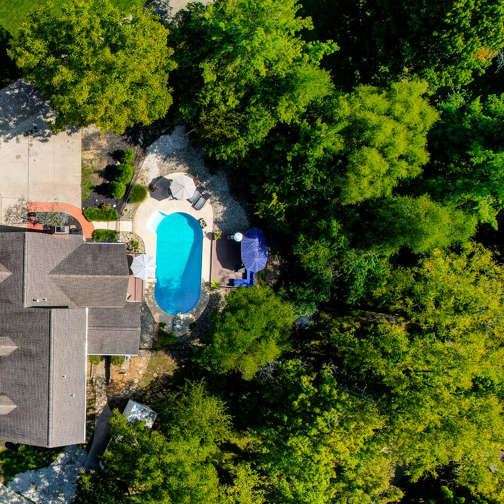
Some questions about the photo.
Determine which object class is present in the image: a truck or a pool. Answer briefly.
pool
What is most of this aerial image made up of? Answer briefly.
trees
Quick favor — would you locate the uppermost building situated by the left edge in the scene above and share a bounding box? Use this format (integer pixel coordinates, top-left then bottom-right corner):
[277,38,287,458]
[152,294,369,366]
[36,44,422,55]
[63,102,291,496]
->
[0,224,140,448]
